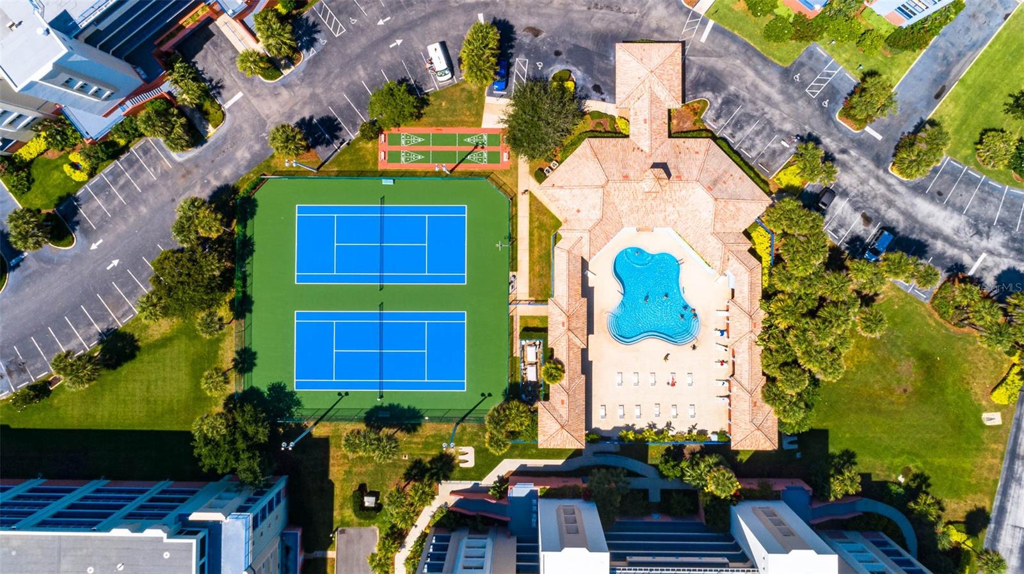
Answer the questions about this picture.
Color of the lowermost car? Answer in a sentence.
In this view, the lowermost car is blue.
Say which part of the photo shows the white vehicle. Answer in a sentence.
Look in the top portion of the view to spot the white vehicle.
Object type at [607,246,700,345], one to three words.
swimming pool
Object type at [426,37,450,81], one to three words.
vehicle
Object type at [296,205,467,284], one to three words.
tennis court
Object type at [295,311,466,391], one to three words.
tennis court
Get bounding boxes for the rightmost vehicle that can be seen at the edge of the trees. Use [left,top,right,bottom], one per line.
[865,230,898,263]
